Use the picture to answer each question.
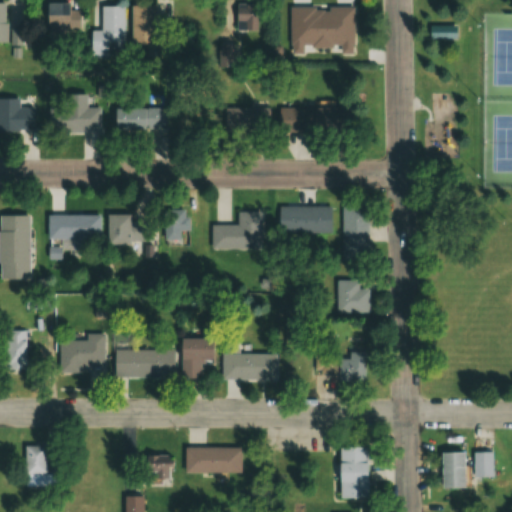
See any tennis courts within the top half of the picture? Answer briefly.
Yes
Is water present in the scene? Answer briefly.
No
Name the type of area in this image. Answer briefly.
residential area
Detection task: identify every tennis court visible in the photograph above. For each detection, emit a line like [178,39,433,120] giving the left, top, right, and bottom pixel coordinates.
[486,100,512,187]
[486,13,512,100]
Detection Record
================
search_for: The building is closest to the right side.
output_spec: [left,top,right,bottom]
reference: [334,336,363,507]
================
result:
[475,452,495,478]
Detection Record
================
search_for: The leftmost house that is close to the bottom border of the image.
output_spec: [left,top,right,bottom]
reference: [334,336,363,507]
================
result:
[27,446,50,486]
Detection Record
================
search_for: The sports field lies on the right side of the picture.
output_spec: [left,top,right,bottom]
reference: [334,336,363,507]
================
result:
[440,260,512,389]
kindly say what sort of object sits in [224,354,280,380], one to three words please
house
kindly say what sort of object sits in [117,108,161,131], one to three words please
house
